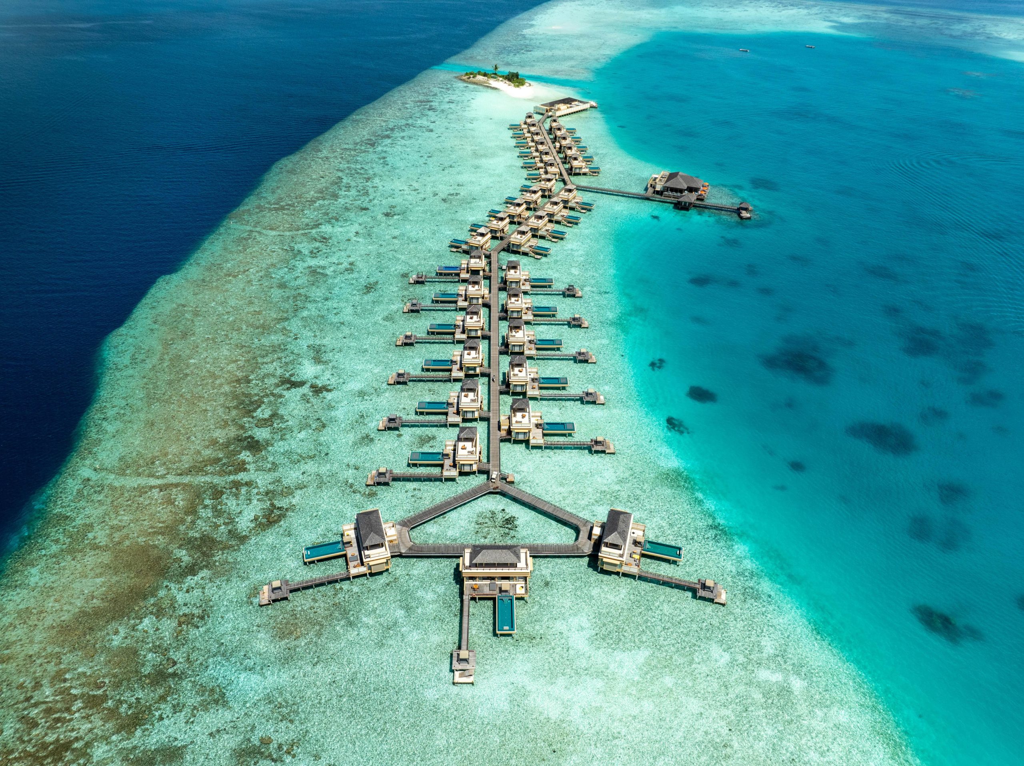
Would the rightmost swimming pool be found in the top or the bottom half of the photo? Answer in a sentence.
The bottom half of the photo is where the rightmost swimming pool is.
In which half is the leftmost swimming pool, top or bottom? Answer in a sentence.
The leftmost swimming pool is in the bottom half of the image.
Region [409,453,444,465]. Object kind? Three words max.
swimming pool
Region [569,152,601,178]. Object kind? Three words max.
house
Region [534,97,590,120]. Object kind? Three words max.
building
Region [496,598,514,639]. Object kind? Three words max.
swimming pool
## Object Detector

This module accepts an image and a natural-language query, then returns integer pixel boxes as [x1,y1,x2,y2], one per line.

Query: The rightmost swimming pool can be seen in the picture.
[643,540,686,563]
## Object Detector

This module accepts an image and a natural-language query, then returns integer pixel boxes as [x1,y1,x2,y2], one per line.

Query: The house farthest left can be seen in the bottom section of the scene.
[345,508,398,584]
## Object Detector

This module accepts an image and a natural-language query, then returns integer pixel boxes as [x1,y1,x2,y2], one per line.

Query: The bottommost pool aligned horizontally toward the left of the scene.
[305,540,348,563]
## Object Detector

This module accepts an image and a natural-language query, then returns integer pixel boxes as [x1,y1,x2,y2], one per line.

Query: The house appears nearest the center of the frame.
[506,354,541,404]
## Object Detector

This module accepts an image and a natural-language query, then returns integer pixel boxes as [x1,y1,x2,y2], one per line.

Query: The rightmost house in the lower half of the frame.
[593,507,647,584]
